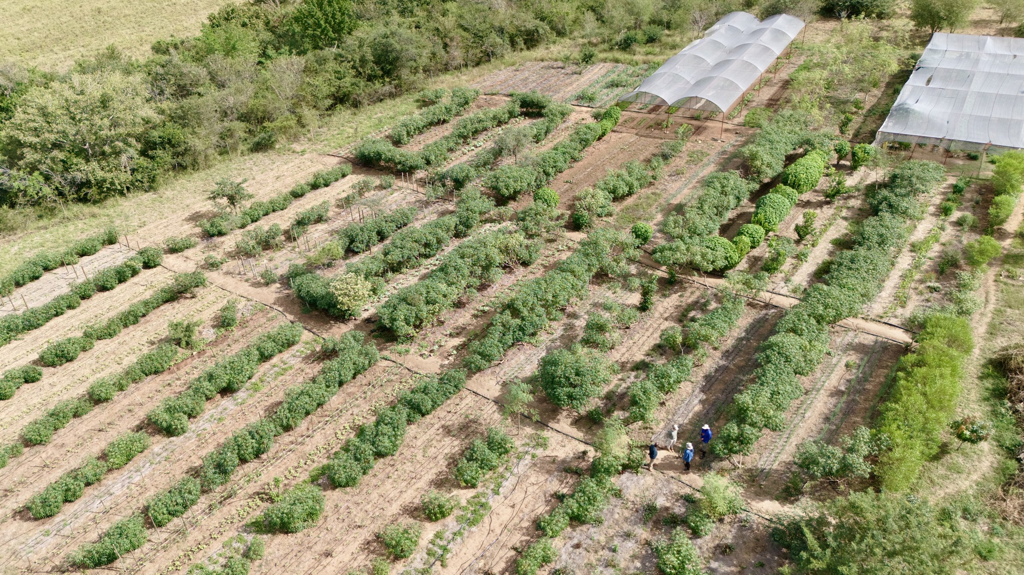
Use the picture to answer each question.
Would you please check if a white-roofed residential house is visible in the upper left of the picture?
No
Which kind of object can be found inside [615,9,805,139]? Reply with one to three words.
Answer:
house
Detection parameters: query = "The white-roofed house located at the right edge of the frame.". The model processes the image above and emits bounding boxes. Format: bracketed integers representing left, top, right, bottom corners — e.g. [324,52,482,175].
[868,33,1024,174]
